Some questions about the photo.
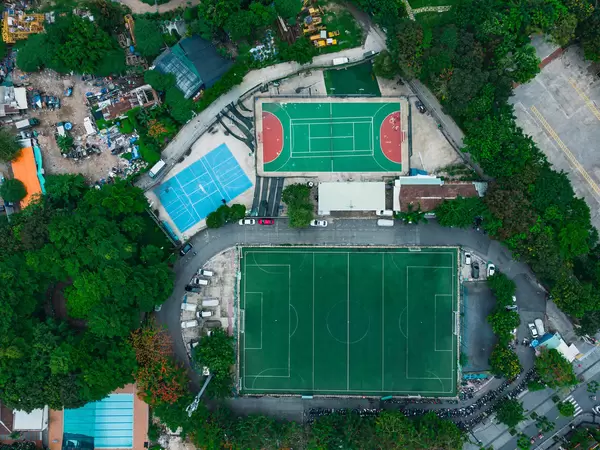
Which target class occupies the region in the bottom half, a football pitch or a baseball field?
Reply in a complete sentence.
The feature located in the bottom half is a football pitch.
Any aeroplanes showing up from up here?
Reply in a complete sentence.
No, there appears to be no aeroplane in this shot.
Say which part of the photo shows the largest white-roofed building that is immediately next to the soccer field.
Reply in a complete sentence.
The largest white-roofed building that is immediately next to the soccer field is located in the center region of the scene.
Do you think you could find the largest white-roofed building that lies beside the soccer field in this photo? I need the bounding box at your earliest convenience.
[318,182,385,214]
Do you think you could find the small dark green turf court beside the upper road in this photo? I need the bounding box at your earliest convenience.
[324,58,381,96]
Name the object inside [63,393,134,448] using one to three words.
swimming pool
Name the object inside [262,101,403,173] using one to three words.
sports court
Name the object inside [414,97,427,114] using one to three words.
vehicle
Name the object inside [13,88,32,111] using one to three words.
shed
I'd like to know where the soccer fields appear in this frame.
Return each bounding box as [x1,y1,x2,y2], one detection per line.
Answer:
[238,247,459,397]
